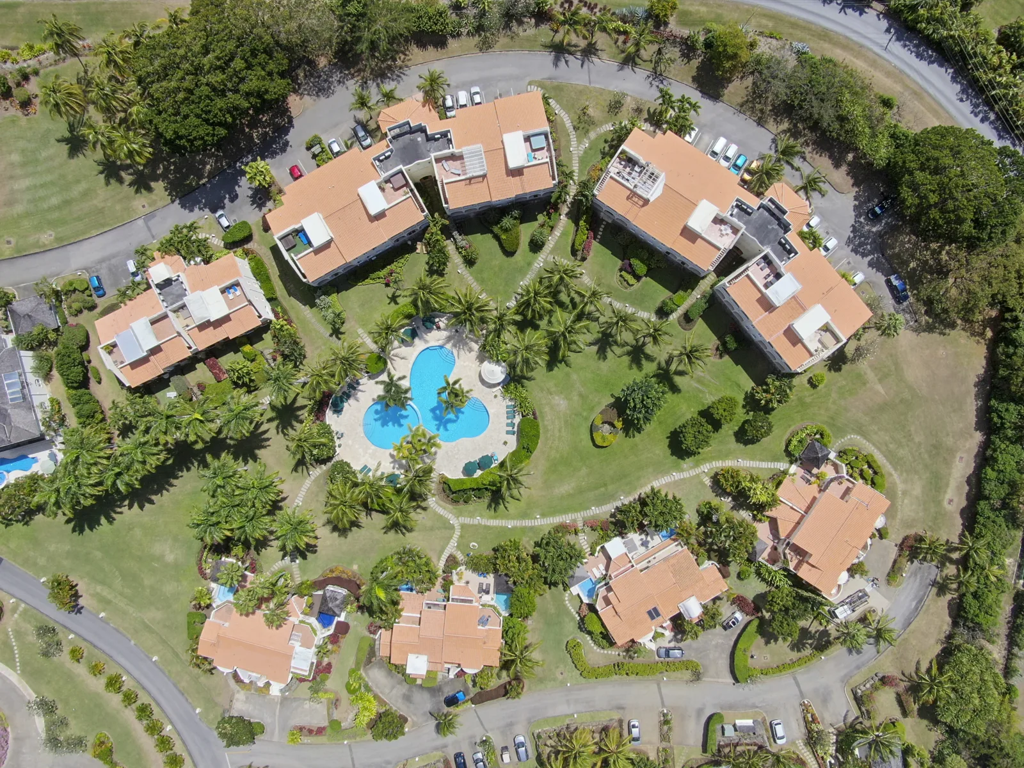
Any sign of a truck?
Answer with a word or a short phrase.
Yes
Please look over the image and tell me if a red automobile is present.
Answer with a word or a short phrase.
Yes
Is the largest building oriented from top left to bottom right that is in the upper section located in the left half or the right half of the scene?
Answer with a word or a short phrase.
right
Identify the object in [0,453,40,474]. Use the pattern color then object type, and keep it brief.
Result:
blue swimming pool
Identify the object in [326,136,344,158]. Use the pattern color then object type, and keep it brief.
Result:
white car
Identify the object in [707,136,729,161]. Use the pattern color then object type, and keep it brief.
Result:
white vehicle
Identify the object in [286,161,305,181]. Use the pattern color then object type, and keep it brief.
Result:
red car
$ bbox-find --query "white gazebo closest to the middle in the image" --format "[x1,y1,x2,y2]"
[480,359,505,384]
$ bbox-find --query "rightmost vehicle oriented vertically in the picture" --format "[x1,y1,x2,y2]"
[770,717,785,744]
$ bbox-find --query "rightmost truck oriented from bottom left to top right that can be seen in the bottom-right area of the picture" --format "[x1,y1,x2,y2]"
[828,585,875,620]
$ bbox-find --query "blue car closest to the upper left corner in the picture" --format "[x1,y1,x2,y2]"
[89,275,108,298]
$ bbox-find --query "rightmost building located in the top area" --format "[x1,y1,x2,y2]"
[591,126,873,374]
